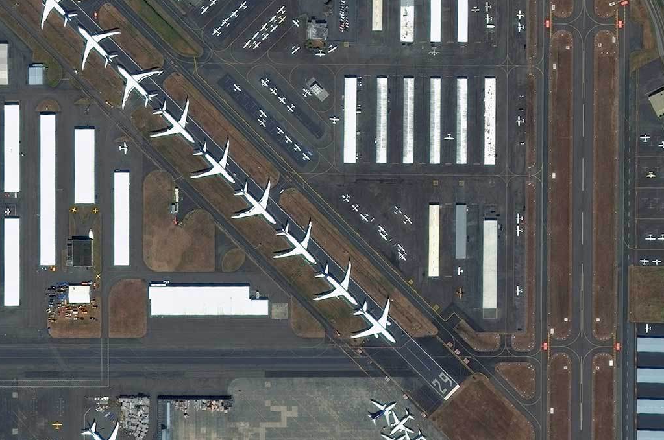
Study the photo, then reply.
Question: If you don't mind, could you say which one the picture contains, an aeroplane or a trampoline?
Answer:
aeroplane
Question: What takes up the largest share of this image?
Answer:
paved ground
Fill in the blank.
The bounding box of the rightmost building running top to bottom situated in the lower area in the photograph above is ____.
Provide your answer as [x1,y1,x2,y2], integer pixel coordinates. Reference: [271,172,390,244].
[483,220,497,308]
